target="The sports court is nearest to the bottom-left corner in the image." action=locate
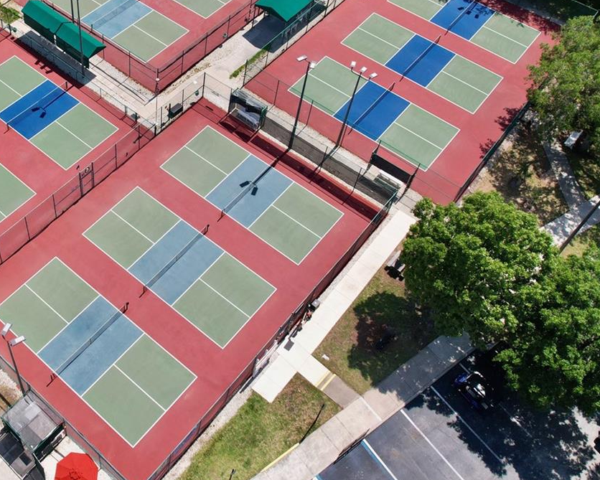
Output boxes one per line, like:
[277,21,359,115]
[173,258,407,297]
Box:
[0,256,195,446]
